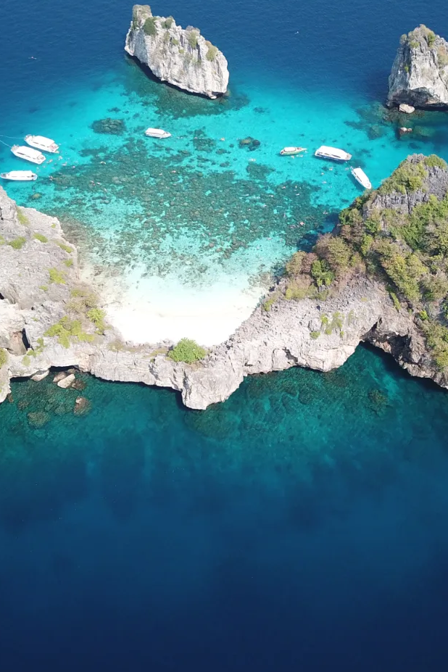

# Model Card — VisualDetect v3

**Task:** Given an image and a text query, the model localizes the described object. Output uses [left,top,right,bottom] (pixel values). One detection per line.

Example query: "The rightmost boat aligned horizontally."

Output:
[312,146,351,161]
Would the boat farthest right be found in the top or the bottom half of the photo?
top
